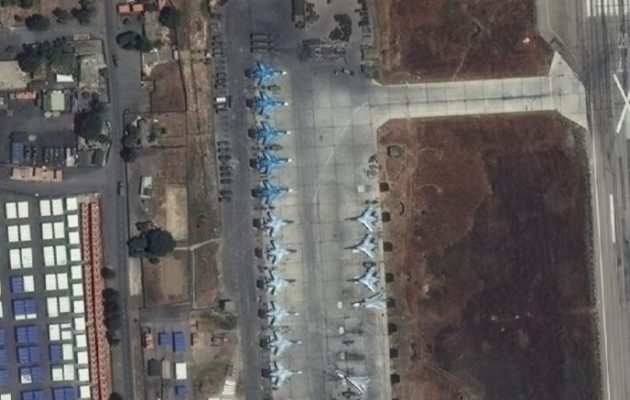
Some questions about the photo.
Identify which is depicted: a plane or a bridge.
plane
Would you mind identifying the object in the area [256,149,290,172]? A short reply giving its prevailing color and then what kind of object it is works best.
blue airplane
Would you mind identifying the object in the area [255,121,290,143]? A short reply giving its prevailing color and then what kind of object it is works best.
blue airplane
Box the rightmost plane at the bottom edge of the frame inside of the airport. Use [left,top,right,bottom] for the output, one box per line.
[337,373,370,391]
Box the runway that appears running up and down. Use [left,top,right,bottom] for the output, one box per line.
[586,0,630,400]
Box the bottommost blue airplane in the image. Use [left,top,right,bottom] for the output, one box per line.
[257,179,291,201]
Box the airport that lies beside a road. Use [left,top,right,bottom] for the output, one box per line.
[213,0,630,400]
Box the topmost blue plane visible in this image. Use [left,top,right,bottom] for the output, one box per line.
[253,60,287,83]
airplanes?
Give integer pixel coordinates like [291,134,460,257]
[257,179,291,201]
[265,302,298,327]
[268,359,301,385]
[254,92,288,114]
[337,373,370,391]
[253,60,287,83]
[255,121,290,143]
[352,294,385,310]
[348,238,380,263]
[347,208,380,233]
[348,268,381,293]
[256,149,290,172]
[263,268,296,293]
[264,239,297,264]
[261,210,294,234]
[268,330,300,355]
